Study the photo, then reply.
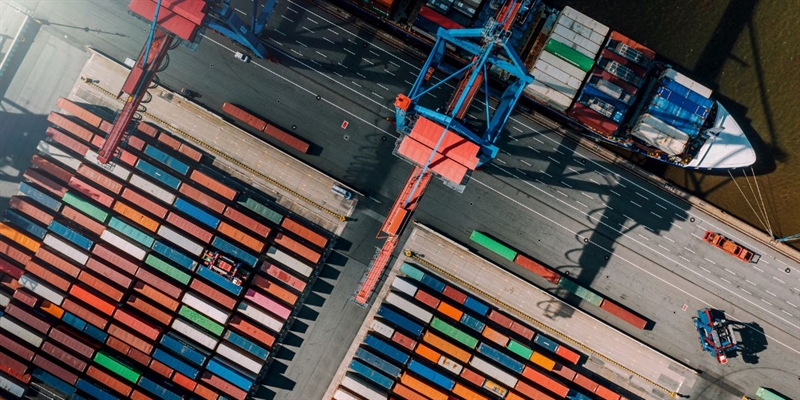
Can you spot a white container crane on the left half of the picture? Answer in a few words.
No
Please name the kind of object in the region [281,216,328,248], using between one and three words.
shipping container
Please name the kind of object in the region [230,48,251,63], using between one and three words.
vehicle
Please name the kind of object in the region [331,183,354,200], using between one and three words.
vehicle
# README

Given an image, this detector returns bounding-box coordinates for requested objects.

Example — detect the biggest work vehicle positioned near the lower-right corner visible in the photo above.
[690,304,746,363]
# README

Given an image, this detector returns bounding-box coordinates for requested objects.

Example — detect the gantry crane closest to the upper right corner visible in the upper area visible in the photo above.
[346,0,555,314]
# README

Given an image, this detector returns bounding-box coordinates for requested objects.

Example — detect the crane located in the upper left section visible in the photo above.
[88,0,313,175]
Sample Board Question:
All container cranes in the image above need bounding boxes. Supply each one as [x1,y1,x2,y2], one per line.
[346,0,555,314]
[88,0,313,175]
